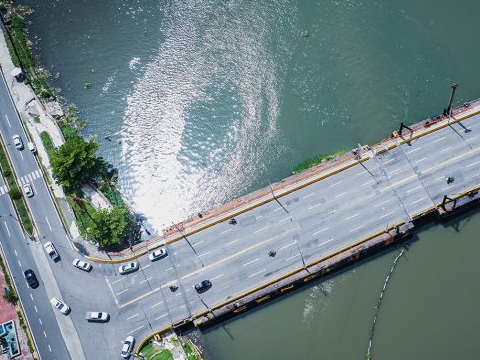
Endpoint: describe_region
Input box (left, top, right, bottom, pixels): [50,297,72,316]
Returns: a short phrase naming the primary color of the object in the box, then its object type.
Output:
white car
